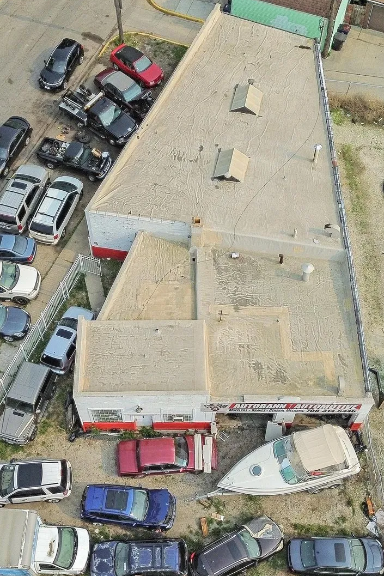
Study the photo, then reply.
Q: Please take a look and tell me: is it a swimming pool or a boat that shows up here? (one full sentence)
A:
The one in the frame is a boat.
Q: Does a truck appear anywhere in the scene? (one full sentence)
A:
Yes, the frame does contain a truck.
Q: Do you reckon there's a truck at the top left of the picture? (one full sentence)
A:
Yes, a truck can be seen at the top left of the picture.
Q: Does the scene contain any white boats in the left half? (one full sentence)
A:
No, in the left half there is no white boat.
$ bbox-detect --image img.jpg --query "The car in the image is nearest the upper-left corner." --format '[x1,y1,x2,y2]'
[41,34,87,92]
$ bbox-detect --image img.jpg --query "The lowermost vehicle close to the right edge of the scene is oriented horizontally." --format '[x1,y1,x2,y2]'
[285,530,384,576]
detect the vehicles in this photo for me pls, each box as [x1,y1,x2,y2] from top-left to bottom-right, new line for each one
[0,114,34,180]
[0,509,92,576]
[0,300,33,344]
[0,457,75,506]
[0,231,39,266]
[78,480,177,532]
[92,65,154,116]
[109,45,164,91]
[33,139,109,185]
[58,86,138,149]
[0,256,42,302]
[189,513,285,576]
[285,530,384,576]
[39,305,94,382]
[0,166,52,233]
[41,34,87,92]
[0,354,56,451]
[90,533,189,576]
[27,178,85,248]
[116,432,218,478]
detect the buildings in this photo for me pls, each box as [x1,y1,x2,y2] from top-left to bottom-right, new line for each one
[74,0,378,438]
[363,0,384,34]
